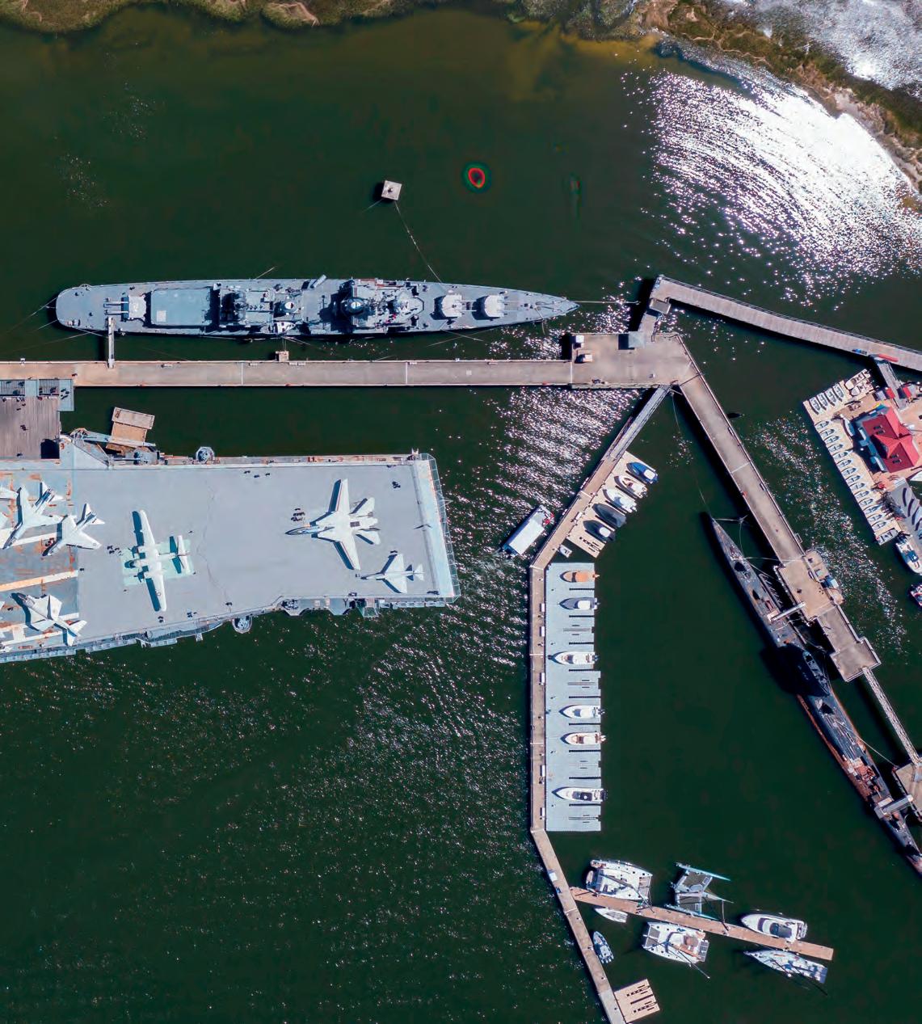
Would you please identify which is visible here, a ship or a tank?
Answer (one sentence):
Of the two, only a ship appears.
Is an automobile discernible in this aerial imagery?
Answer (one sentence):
No, this view has no automobile in it.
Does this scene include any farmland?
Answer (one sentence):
No, the picture contains no farmland.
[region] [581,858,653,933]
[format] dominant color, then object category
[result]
white boat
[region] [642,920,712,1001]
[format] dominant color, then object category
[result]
white boat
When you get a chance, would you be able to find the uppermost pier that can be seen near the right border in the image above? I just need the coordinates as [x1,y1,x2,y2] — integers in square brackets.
[649,276,922,371]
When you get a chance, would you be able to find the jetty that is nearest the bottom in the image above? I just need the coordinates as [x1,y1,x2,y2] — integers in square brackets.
[613,977,660,1023]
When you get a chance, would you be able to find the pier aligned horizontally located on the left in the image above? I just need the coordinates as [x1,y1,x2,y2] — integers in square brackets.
[0,360,571,388]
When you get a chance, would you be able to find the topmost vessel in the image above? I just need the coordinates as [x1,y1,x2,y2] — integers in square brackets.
[54,275,580,337]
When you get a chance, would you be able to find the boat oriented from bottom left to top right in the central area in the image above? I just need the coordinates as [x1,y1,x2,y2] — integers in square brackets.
[499,506,551,560]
